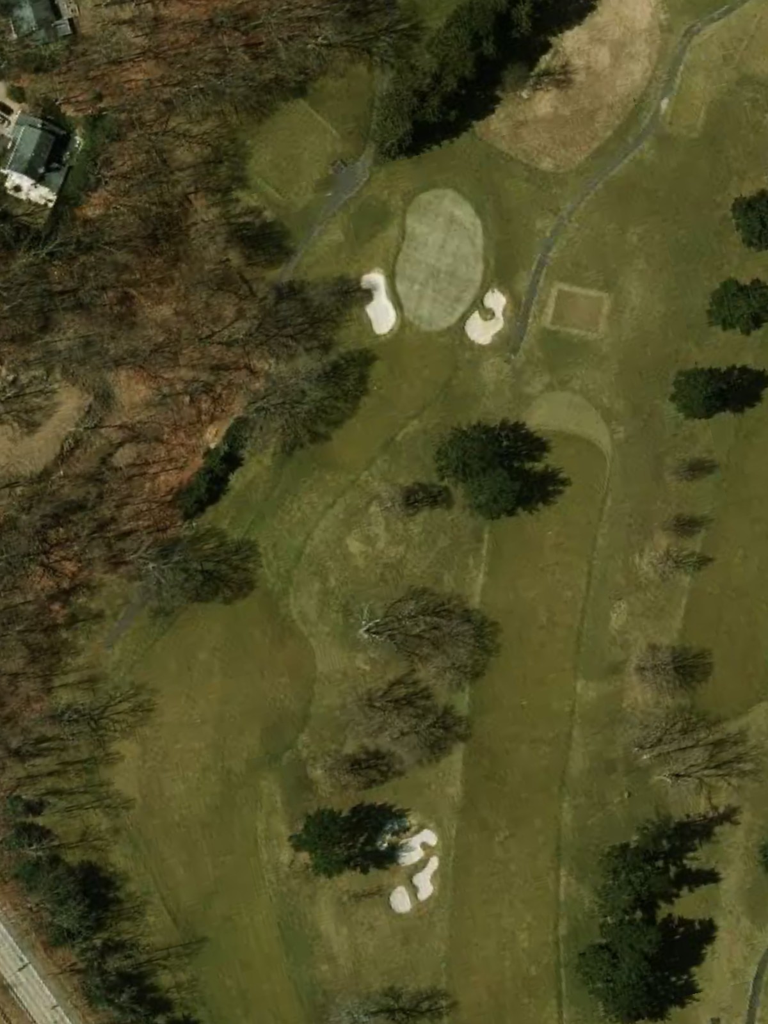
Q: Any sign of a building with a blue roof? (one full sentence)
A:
No, the scene contains no building with a blue roof.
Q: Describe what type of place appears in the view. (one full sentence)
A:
This looks like a golf course.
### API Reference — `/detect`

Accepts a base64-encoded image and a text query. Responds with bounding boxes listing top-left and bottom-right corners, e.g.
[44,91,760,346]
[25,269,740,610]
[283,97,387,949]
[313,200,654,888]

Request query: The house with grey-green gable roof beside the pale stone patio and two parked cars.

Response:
[8,110,68,193]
